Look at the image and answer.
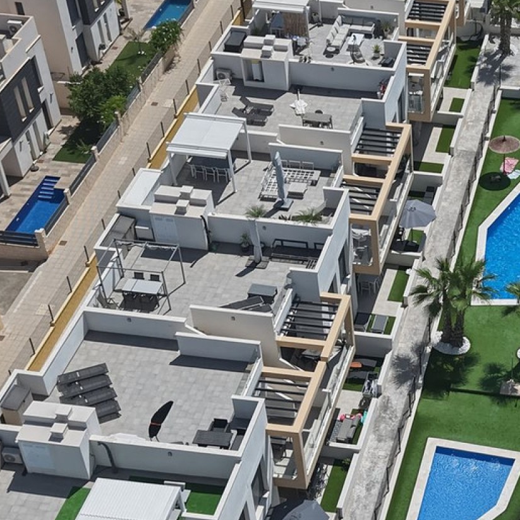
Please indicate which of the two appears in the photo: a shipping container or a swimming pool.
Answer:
swimming pool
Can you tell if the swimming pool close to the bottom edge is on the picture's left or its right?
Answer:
right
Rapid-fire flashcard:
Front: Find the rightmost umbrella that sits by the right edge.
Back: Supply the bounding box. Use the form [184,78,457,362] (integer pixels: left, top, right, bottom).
[489,129,520,174]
